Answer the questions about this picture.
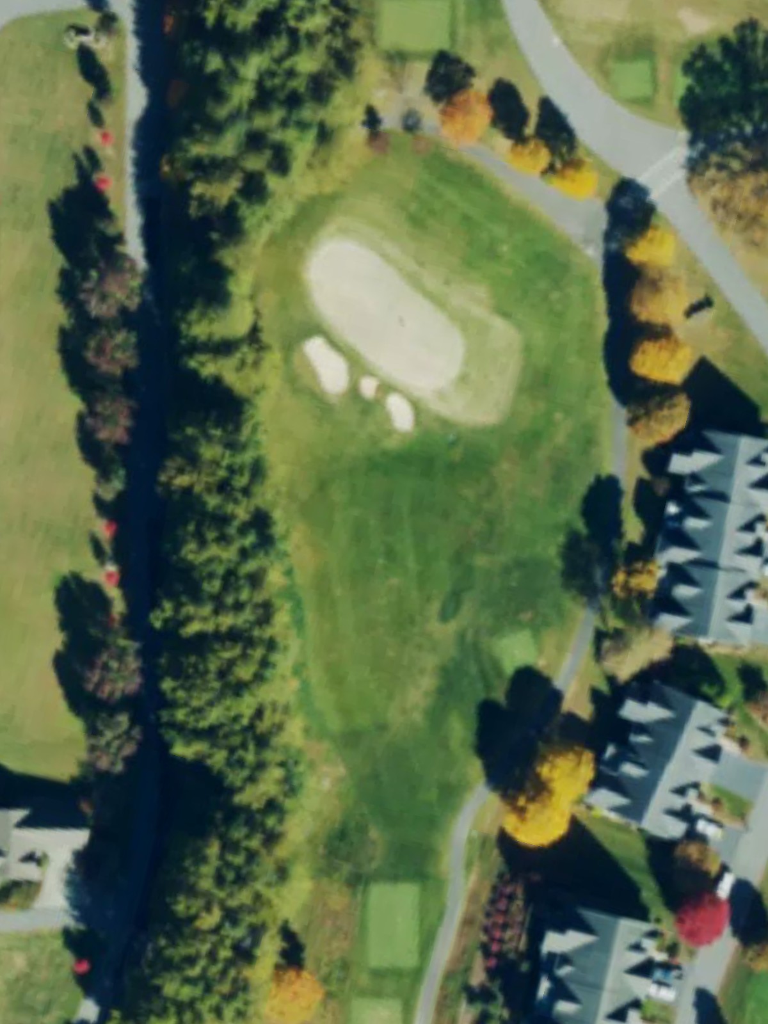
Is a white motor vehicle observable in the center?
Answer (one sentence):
No, I can find no white motor vehicle in the center.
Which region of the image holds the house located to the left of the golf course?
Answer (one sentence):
The house located to the left of the golf course is located in the bottom left region of the scene.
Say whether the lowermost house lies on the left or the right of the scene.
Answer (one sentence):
You can find the lowermost house on the right side of the picture.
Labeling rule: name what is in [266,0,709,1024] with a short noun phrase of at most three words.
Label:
golf course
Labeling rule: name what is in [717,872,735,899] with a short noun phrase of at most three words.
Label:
vehicle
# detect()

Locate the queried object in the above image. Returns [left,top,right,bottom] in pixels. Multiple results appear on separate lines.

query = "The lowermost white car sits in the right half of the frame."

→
[652,985,676,999]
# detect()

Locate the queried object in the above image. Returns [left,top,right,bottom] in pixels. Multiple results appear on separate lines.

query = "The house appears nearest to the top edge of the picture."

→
[656,432,768,652]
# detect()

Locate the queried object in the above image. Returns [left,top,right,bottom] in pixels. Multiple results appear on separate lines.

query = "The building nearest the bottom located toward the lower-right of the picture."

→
[537,909,659,1024]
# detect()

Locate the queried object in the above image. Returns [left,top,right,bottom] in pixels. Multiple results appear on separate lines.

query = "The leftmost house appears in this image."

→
[0,806,91,882]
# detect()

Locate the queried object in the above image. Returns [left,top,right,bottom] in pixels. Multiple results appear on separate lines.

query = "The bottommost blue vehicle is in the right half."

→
[656,970,676,982]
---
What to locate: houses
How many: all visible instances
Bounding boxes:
[537,909,659,1024]
[588,684,732,844]
[0,806,91,882]
[656,432,768,652]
